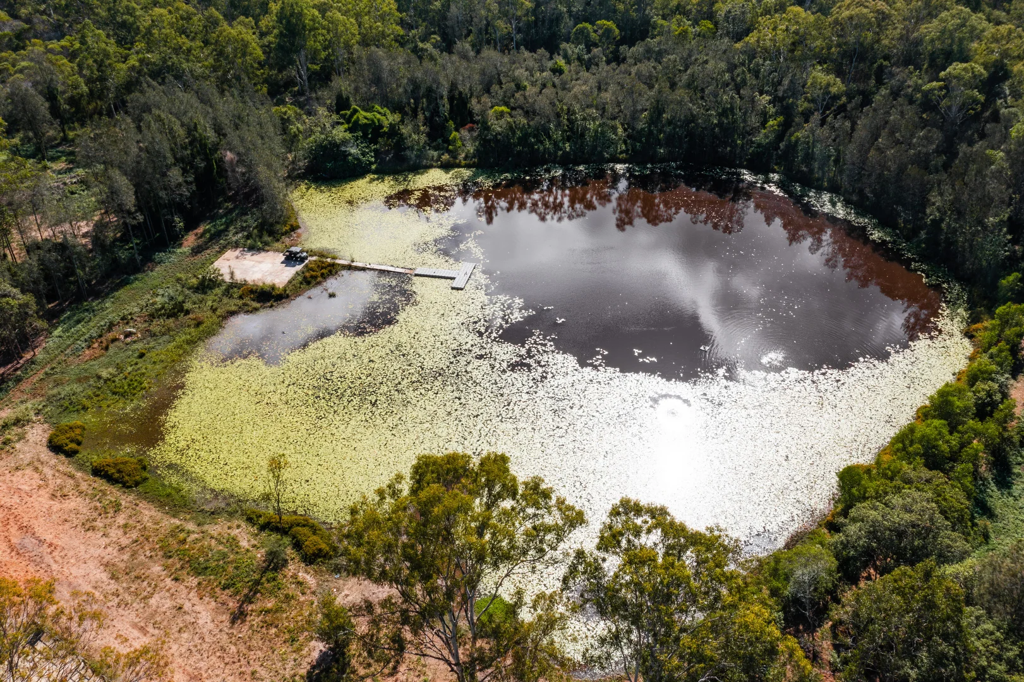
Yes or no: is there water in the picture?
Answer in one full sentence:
Yes, there is water in the image.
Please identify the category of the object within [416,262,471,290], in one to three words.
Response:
pier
